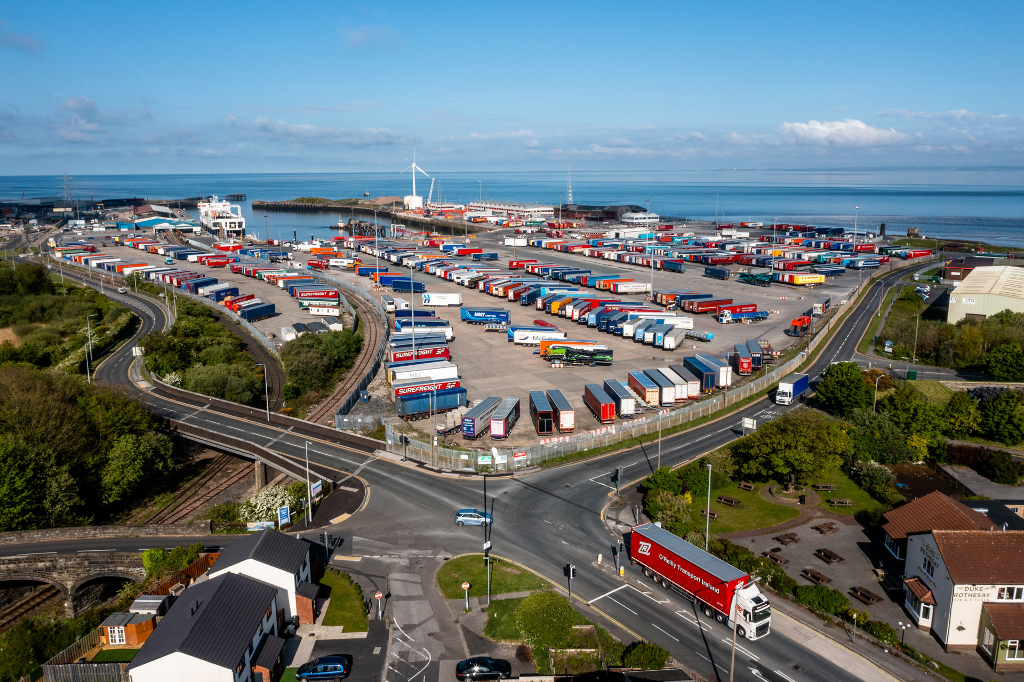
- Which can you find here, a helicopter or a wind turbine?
wind turbine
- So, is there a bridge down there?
Yes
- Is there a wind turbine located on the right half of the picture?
No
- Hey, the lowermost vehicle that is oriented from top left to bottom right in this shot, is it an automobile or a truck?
truck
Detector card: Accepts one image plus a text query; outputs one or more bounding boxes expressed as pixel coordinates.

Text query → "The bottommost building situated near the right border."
[892,527,1024,678]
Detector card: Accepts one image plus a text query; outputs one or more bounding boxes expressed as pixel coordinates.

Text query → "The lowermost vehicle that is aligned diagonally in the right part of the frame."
[629,520,774,636]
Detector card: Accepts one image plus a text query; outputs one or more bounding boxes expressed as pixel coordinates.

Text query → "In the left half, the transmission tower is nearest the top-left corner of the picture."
[59,171,75,211]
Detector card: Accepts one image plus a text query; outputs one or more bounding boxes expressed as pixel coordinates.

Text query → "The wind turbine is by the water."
[400,145,428,198]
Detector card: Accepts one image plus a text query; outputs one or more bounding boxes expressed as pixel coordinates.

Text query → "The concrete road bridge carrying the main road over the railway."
[132,377,386,489]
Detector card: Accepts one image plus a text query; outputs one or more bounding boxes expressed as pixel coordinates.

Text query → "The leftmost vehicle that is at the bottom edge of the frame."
[298,653,352,682]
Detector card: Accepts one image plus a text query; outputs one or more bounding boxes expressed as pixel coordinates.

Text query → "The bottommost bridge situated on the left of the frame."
[0,521,185,611]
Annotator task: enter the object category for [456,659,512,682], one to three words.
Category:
car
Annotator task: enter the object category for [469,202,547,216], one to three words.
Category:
building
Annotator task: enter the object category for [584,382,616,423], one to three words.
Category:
trailer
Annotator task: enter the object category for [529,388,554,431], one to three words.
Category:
trailer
